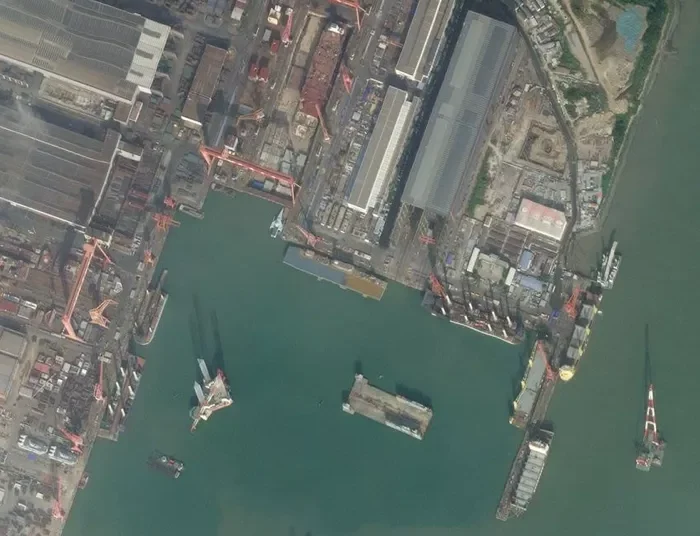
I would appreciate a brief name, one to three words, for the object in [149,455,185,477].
ship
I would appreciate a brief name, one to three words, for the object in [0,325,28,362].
shed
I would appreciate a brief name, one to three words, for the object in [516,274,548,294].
building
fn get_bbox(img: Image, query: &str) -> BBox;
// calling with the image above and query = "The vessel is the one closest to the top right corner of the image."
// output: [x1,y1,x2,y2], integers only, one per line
[596,241,623,291]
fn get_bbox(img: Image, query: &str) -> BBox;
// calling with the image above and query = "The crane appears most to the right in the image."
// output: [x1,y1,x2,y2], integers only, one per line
[635,384,663,472]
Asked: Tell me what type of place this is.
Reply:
port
